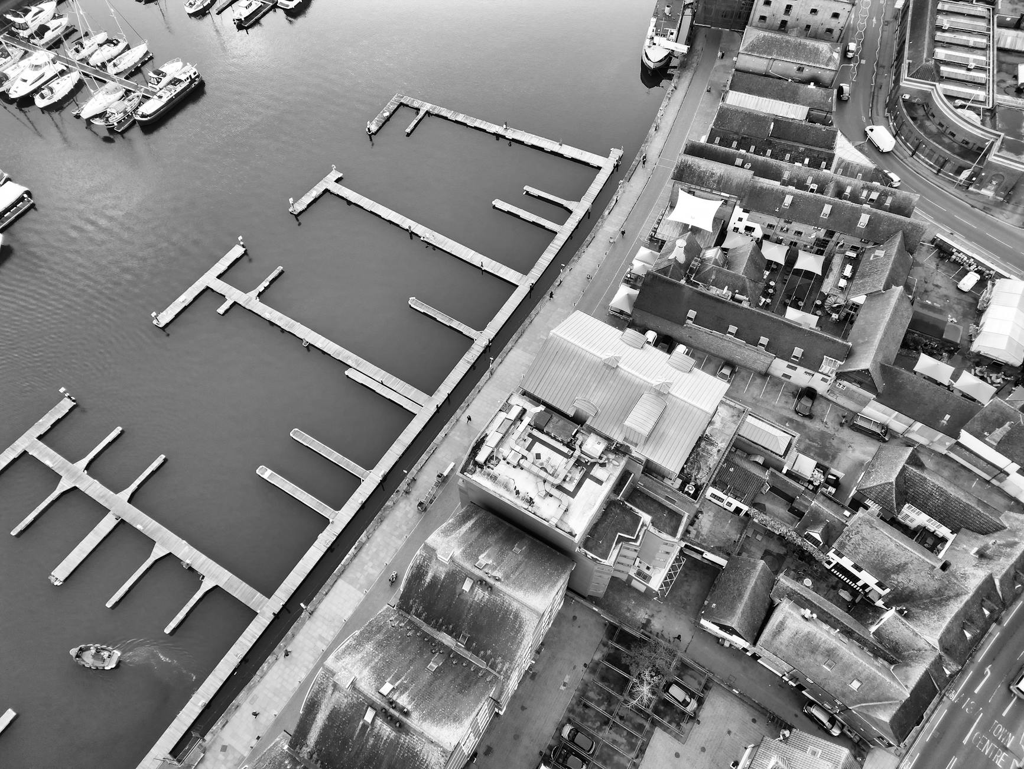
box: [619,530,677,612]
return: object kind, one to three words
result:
building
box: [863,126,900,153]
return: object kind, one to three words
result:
vehicle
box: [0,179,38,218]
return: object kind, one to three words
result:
boat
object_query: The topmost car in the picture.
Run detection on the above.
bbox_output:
[844,45,857,60]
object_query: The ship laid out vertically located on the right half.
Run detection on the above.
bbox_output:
[643,0,681,75]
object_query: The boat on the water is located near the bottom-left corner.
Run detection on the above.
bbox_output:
[68,640,125,669]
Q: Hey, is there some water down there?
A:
Yes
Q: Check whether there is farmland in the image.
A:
No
